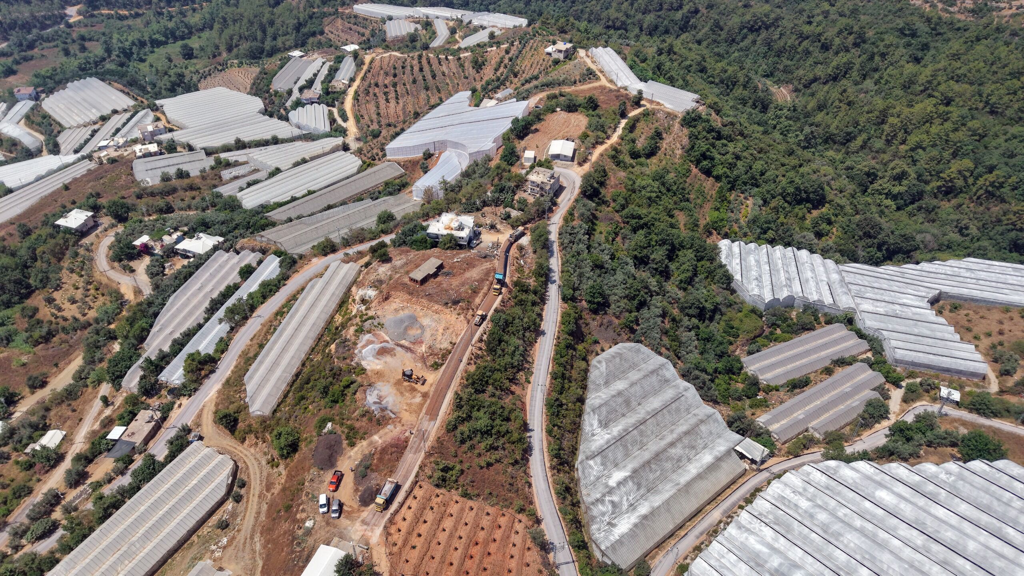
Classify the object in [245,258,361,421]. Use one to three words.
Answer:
greenhouse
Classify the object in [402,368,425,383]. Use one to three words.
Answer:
work vehicle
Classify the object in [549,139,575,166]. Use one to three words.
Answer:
house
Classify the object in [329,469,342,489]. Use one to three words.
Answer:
vehicle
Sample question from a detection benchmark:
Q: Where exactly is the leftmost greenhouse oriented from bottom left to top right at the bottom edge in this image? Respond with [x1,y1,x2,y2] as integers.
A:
[43,440,236,576]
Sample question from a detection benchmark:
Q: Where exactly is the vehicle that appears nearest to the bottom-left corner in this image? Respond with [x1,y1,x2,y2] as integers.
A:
[187,426,202,443]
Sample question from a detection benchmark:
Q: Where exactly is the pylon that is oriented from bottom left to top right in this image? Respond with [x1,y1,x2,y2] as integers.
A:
[932,370,969,416]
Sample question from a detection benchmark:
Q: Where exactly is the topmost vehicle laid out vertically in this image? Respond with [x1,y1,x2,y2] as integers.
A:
[493,271,505,294]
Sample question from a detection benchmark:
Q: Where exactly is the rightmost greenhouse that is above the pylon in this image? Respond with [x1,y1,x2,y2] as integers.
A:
[839,256,1024,378]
